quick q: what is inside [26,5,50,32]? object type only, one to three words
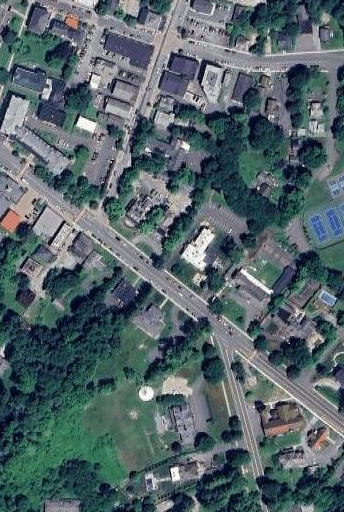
building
